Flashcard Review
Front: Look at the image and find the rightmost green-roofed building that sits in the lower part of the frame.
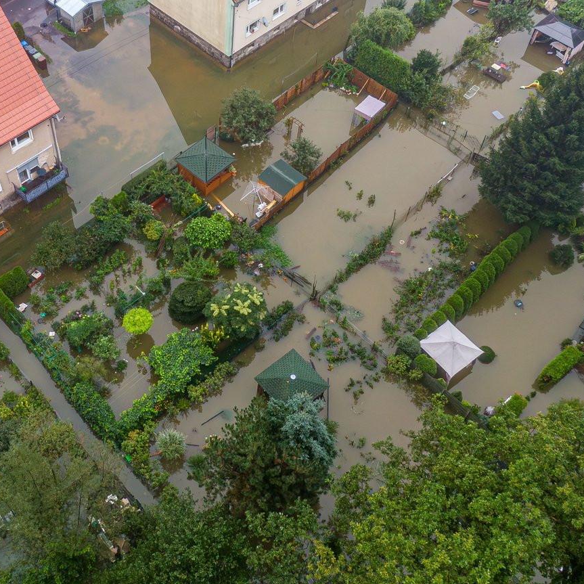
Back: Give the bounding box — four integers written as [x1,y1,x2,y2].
[254,348,329,405]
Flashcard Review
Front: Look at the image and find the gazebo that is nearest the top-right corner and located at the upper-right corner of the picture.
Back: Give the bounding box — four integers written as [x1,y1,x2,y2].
[528,13,584,67]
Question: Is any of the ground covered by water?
Yes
